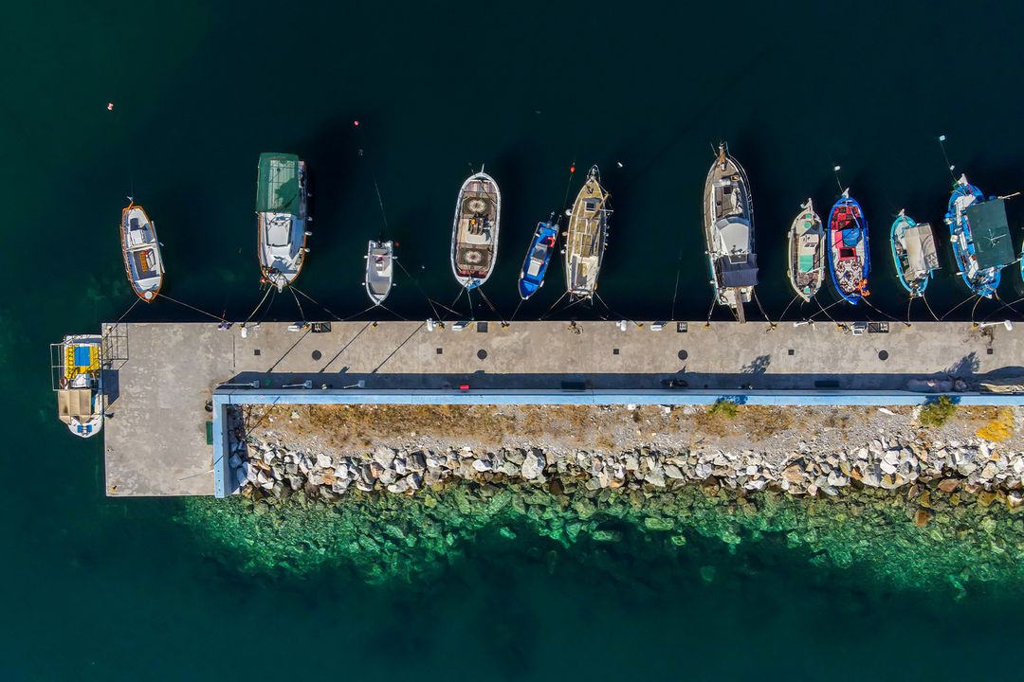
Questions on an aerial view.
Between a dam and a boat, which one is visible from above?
boat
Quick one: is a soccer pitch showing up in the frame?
No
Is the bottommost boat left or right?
left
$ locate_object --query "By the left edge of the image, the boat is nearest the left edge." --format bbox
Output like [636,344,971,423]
[50,329,113,438]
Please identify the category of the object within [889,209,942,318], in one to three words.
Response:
boat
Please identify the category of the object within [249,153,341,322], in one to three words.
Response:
boat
